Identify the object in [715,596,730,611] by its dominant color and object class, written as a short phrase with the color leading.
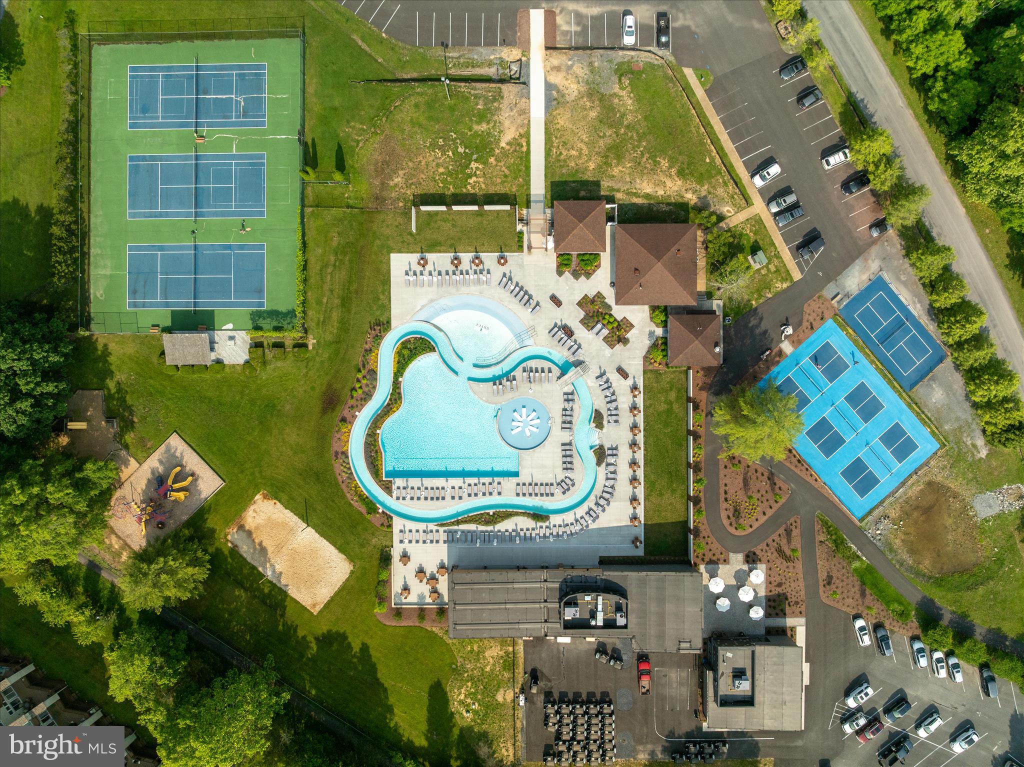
white umbrella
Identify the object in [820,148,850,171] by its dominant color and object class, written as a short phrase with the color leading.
white car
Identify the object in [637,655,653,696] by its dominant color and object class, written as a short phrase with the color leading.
red vehicle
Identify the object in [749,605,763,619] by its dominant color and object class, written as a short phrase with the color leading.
white umbrella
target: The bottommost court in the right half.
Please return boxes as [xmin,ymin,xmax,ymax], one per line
[839,421,920,499]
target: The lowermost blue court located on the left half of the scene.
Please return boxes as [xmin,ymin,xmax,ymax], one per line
[127,236,266,314]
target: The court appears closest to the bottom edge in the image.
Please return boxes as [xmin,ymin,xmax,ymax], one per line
[226,491,353,614]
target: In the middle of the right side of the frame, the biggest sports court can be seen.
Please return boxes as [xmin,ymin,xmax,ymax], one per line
[839,275,947,391]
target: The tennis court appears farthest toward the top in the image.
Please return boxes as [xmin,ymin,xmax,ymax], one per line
[128,54,267,132]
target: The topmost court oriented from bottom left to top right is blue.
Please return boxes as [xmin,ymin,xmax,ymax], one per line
[770,340,851,416]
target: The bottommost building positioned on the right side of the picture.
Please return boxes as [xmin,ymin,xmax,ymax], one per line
[703,632,803,732]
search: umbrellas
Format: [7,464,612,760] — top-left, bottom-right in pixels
[709,577,724,592]
[749,569,763,583]
[738,585,754,601]
[715,596,730,611]
[749,605,763,619]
